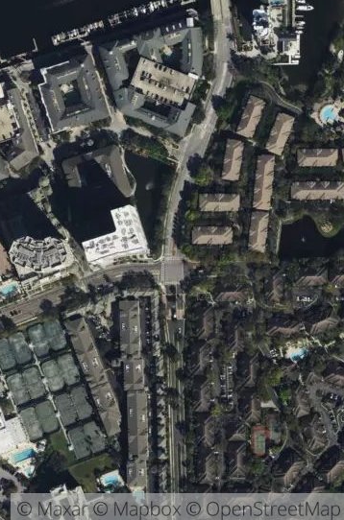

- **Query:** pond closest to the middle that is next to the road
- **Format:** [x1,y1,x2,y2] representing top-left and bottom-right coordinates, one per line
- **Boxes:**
[61,151,168,251]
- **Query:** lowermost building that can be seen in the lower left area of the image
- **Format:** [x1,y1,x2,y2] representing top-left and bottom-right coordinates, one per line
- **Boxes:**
[53,486,87,520]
